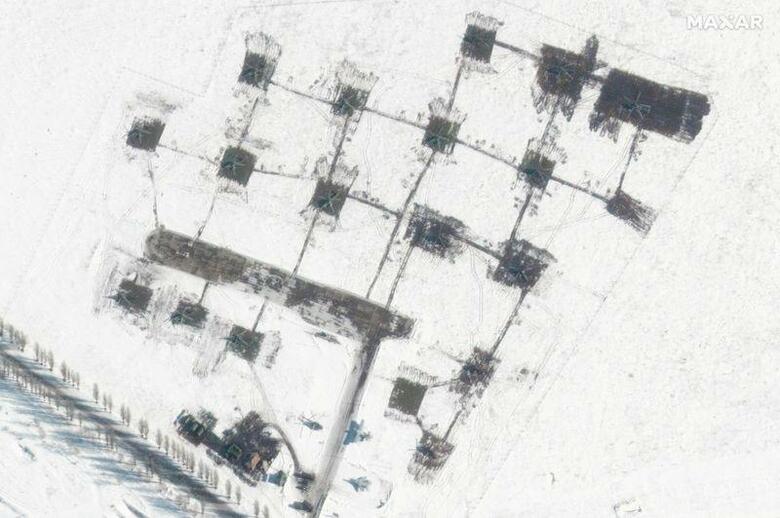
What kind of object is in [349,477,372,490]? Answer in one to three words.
airplane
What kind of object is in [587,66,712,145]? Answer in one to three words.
helipad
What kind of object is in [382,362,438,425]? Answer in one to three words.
helipad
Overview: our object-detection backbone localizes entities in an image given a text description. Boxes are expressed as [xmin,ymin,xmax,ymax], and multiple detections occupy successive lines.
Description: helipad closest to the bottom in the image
[405,431,456,483]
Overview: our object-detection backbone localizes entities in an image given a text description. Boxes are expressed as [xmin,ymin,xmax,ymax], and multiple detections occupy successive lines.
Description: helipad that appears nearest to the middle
[403,200,471,265]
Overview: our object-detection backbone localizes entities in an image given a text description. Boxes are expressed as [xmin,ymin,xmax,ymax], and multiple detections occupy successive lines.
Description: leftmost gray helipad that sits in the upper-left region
[126,116,167,152]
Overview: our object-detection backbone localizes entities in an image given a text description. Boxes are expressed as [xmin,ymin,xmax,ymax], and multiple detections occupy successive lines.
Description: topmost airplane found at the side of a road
[344,421,363,442]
